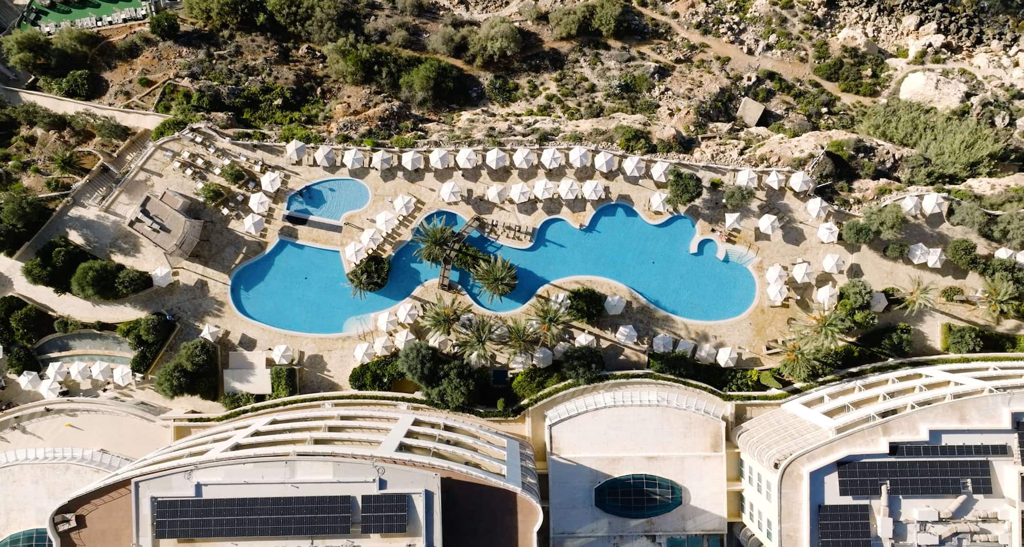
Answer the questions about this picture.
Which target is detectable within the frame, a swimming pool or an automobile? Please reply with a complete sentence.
The one in the frame is a swimming pool.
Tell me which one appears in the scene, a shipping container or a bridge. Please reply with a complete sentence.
Looking from above, you can make out a bridge.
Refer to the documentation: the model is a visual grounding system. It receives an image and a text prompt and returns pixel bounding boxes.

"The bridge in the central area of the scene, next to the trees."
[438,217,484,293]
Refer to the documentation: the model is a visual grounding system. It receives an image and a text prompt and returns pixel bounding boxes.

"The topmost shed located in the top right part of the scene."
[734,96,766,128]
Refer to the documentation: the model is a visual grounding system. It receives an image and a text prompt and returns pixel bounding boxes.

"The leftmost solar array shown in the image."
[156,493,351,538]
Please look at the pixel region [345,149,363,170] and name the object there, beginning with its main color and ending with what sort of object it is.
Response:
white umbrella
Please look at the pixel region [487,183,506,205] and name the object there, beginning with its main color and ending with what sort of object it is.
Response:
white umbrella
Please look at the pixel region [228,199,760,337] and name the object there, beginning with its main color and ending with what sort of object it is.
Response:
blue swimming pool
